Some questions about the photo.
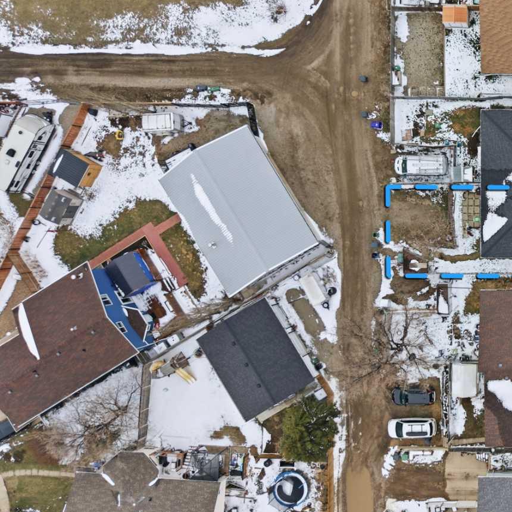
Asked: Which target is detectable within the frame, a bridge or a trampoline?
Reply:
trampoline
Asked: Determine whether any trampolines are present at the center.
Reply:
No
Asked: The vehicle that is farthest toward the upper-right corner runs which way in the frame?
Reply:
from left to right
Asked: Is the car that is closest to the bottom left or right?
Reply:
right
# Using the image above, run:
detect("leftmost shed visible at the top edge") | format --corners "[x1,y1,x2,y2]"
[442,3,470,28]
